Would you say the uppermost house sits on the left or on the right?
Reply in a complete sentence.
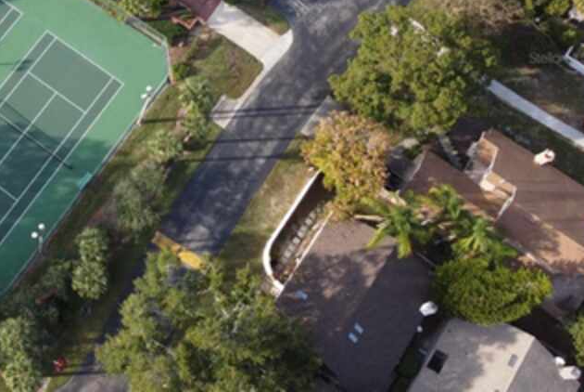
The uppermost house appears in the right half of the scene.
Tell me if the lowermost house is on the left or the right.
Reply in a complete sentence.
The lowermost house sits on the right side.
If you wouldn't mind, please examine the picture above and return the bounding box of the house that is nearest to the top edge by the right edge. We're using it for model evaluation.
[400,130,584,293]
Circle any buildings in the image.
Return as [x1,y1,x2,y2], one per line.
[400,130,584,293]
[404,317,582,392]
[253,213,435,392]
